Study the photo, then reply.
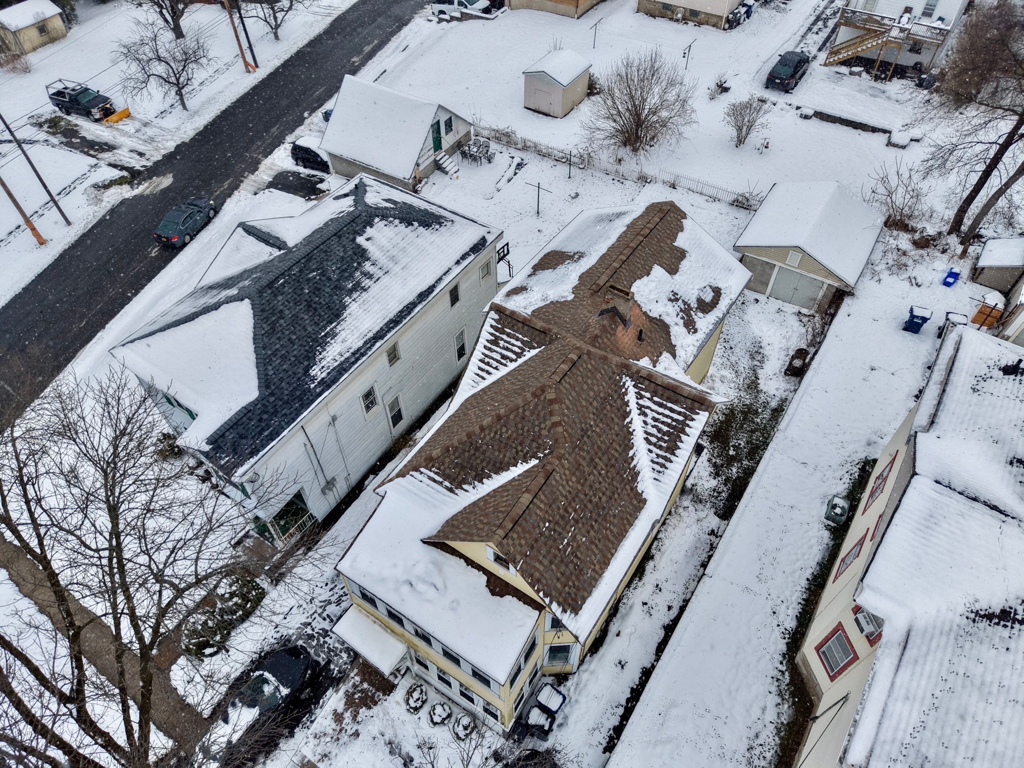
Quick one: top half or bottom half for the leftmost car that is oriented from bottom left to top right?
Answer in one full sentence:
Seen from above, the leftmost car that is oriented from bottom left to top right lies in the top half of the view.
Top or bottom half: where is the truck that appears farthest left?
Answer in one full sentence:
The truck that appears farthest left is in the top half of the image.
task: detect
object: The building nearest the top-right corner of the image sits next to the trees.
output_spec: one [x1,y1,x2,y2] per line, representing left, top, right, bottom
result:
[825,0,962,76]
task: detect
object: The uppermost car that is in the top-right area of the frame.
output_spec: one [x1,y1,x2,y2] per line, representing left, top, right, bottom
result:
[774,50,808,85]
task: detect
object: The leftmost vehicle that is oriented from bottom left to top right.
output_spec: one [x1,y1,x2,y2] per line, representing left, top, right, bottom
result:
[151,193,216,246]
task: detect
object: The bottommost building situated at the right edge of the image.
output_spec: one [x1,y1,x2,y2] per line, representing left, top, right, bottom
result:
[799,321,1024,768]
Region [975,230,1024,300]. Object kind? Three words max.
shed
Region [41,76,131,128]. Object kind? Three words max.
truck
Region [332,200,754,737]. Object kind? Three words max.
house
